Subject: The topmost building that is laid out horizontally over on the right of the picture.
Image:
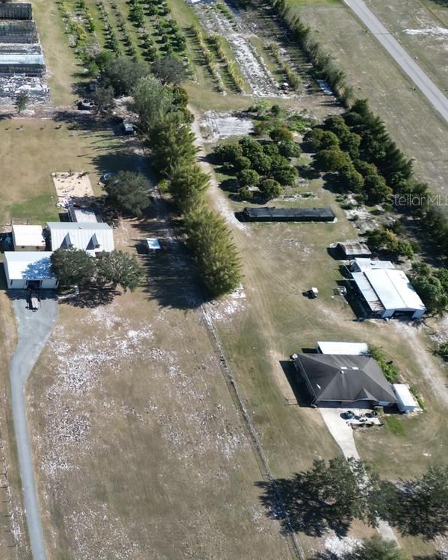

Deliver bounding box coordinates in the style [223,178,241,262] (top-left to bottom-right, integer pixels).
[244,206,337,223]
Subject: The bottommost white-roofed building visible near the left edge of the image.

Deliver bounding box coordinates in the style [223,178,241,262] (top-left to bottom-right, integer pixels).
[4,251,60,289]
